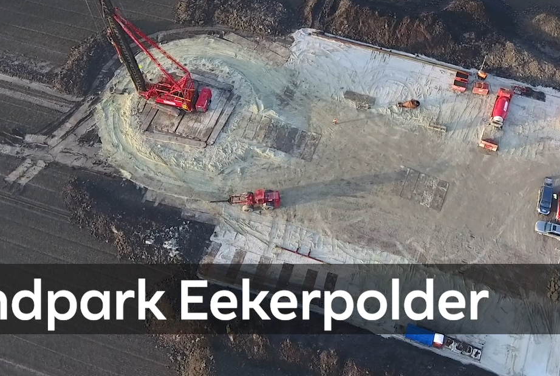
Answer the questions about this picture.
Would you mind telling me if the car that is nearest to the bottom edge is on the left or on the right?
right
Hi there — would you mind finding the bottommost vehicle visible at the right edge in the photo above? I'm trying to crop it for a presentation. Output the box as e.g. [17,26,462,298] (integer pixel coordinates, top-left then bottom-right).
[534,224,560,246]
